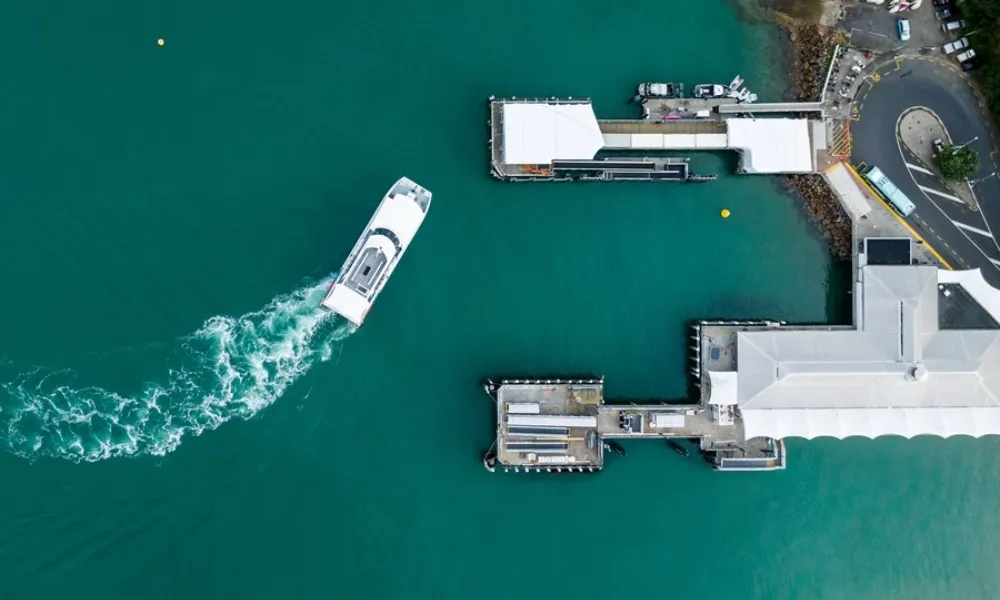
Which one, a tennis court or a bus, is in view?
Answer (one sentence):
Of the two, only a bus appears.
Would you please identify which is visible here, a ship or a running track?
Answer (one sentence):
There is a ship in the scene.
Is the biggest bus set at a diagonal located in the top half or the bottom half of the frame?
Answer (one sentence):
The top half of the photo is where the biggest bus set at a diagonal is.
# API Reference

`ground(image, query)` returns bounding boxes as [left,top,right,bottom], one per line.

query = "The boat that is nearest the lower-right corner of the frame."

[668,439,688,455]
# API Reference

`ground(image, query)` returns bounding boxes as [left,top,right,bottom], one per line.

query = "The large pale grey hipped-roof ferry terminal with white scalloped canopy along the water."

[736,237,1000,439]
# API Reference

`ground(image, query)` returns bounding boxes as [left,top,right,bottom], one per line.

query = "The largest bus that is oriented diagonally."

[860,166,915,217]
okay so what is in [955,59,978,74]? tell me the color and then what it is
black car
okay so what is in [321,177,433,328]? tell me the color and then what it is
white ship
